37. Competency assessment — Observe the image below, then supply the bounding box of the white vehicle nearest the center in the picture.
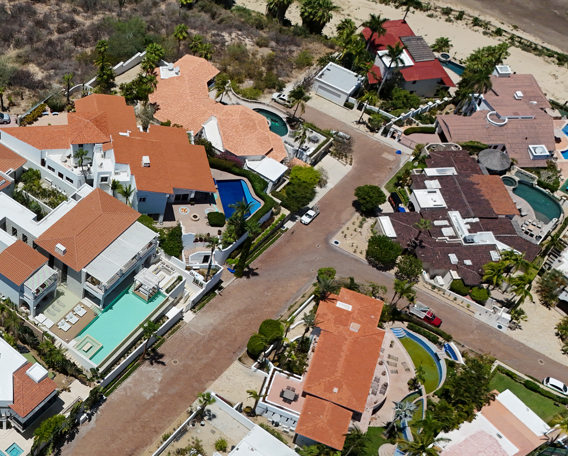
[300,207,319,225]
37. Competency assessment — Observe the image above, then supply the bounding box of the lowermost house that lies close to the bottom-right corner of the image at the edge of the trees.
[428,389,550,456]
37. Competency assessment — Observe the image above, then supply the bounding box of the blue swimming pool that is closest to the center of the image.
[213,177,265,223]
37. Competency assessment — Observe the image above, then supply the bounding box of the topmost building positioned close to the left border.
[0,93,216,215]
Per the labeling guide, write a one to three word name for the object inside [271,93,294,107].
car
